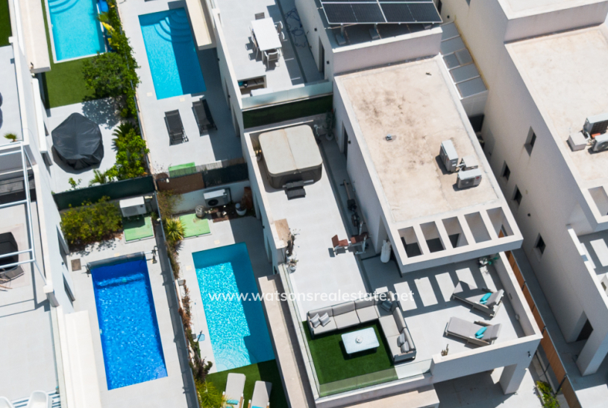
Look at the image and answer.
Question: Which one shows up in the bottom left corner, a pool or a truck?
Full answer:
You can see a pool in the bottom left corner.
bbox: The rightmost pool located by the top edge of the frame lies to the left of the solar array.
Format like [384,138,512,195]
[139,6,206,99]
